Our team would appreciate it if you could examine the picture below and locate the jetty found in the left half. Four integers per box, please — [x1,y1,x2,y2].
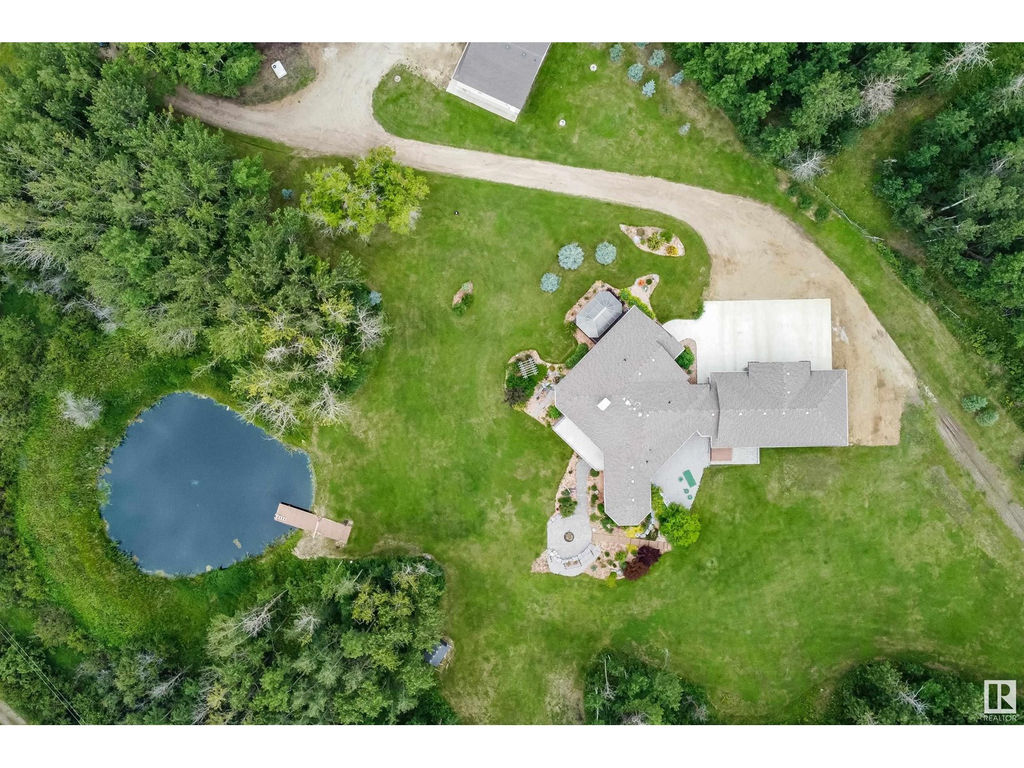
[274,501,351,544]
